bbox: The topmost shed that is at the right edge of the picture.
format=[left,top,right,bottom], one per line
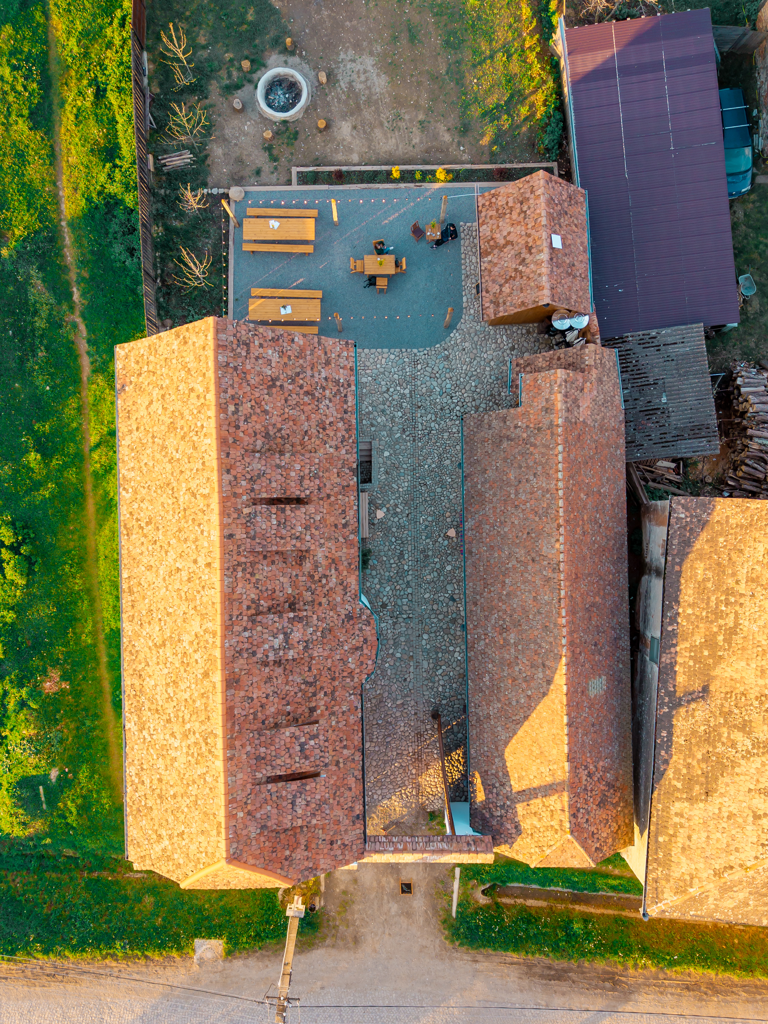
[552,5,740,343]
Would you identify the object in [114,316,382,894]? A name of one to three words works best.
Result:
house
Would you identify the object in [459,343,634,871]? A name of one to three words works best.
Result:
house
